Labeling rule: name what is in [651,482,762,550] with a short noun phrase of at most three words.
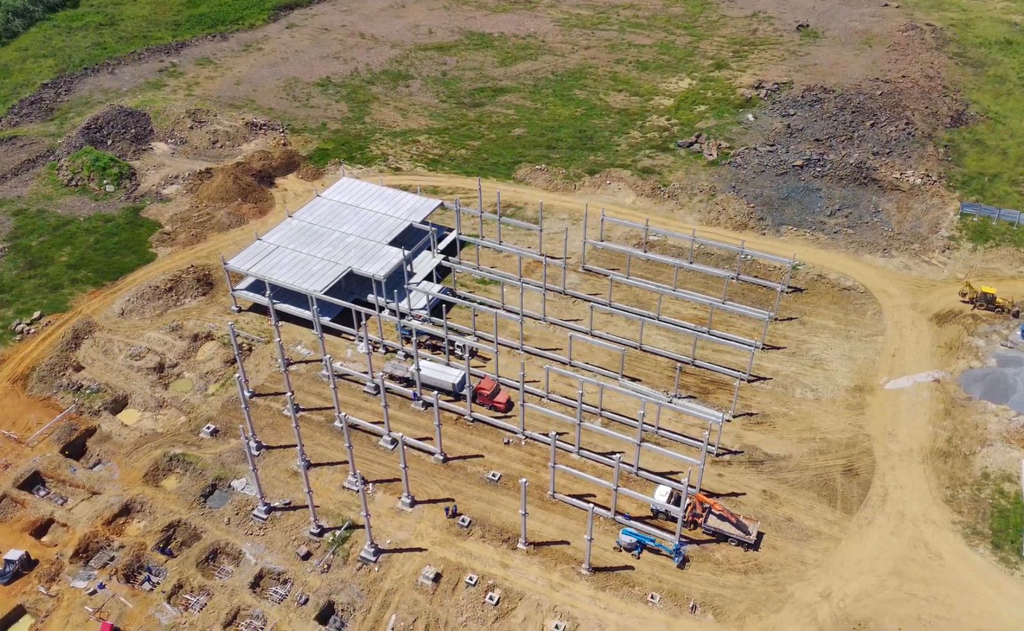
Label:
truck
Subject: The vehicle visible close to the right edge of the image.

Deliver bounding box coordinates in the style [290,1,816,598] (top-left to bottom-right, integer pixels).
[959,281,1024,319]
